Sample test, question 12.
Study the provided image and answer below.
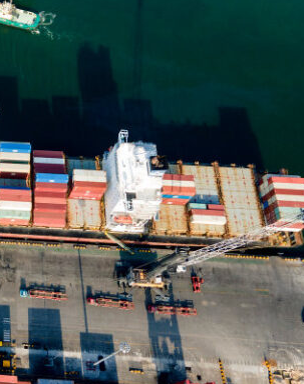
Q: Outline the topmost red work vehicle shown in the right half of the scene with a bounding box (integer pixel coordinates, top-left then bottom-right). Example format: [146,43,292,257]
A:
[189,272,202,292]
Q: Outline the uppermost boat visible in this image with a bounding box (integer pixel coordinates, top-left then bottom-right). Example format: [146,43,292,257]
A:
[0,0,42,32]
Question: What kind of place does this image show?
port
